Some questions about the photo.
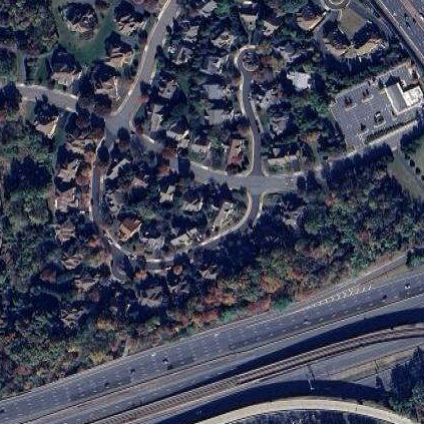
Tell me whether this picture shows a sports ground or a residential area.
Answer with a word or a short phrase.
residential area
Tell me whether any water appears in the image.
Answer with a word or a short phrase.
No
